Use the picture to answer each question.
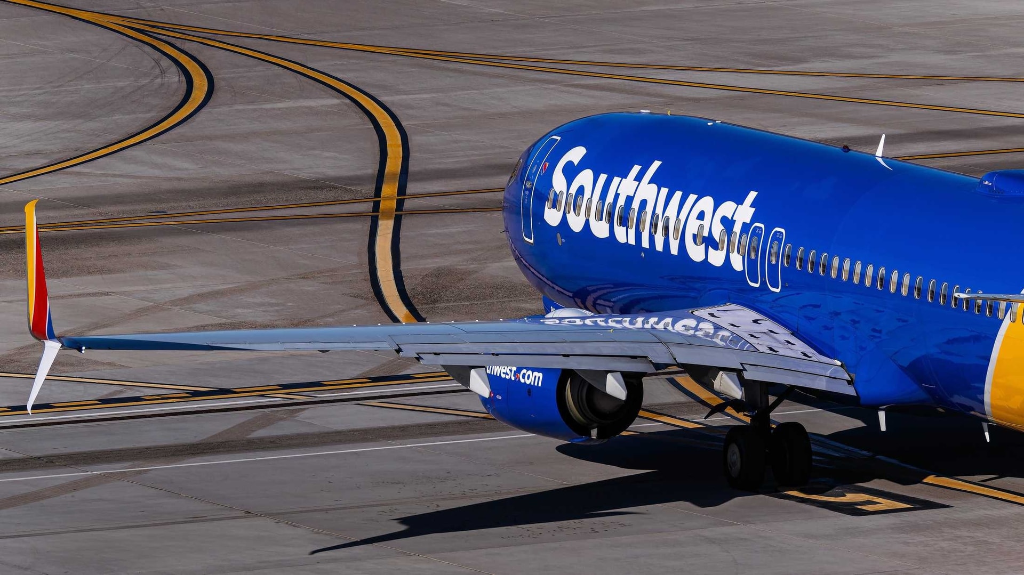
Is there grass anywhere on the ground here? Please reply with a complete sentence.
No, grass can't be seen anywhere here.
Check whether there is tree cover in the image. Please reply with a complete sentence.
No, no tree cover is visible.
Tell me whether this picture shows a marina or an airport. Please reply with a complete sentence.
The area seen from above is an airport.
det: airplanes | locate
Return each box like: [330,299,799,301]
[25,110,1024,492]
